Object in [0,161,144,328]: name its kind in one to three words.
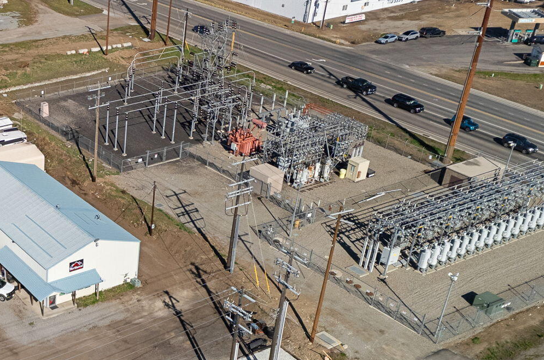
building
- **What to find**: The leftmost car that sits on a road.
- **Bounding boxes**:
[191,21,214,34]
